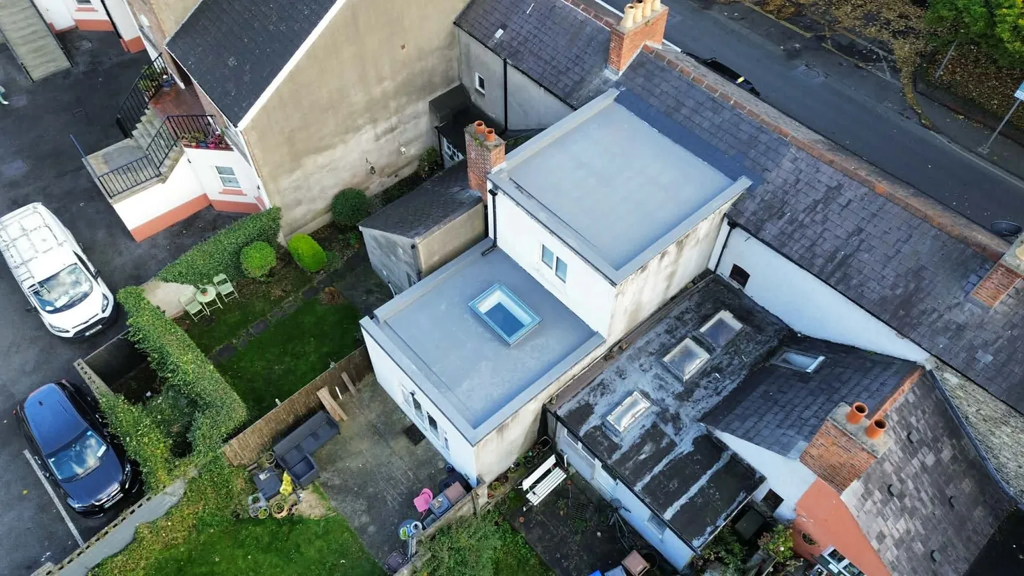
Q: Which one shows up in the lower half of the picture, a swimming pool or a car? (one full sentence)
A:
What appears in the lower half of the picture is a car.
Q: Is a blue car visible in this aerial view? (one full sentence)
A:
Yes, there is a blue car in the image.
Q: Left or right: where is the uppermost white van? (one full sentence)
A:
The uppermost white van is on the left side of the image.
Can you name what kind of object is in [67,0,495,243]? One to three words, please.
house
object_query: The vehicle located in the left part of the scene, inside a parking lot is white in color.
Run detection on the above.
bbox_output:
[0,201,113,336]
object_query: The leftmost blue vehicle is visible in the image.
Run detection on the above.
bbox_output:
[18,379,137,514]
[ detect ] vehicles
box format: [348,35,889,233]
[0,201,113,336]
[18,379,137,514]
[685,53,761,97]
